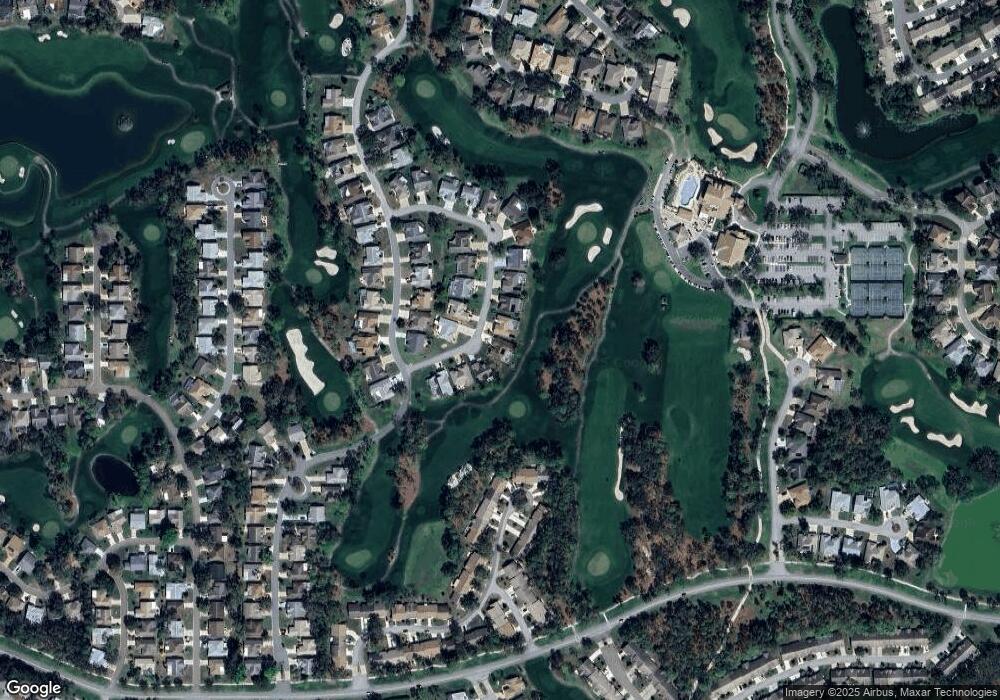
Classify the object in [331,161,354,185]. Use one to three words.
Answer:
house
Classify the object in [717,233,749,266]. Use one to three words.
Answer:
building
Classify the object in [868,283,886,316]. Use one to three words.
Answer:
tennis court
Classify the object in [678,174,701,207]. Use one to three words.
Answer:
swimming pool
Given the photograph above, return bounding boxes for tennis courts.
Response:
[868,283,886,316]
[852,248,868,280]
[852,283,868,316]
[868,248,886,280]
[886,283,903,316]
[886,248,903,280]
